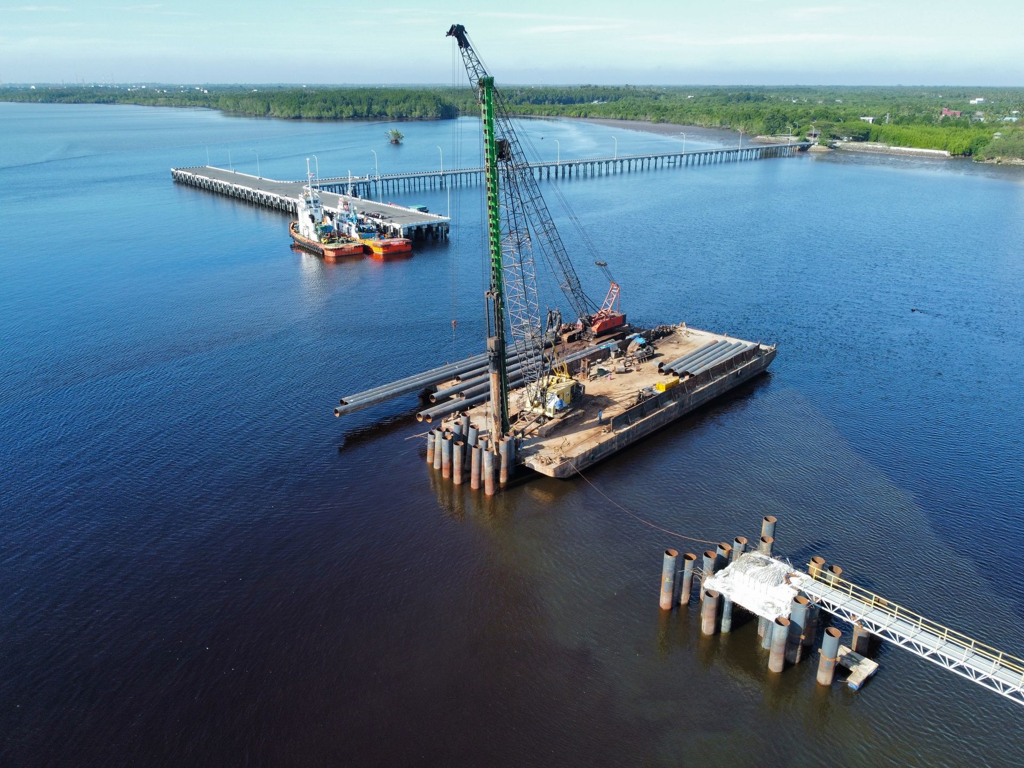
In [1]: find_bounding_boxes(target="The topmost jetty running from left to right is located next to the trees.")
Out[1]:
[274,142,815,190]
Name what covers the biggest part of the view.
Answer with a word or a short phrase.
water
